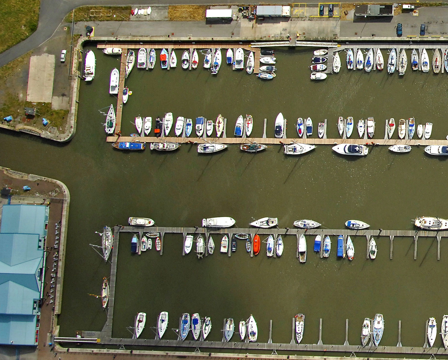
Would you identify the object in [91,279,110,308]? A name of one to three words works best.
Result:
boat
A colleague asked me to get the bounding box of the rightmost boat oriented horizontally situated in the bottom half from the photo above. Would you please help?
[414,216,448,230]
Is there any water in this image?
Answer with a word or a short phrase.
Yes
